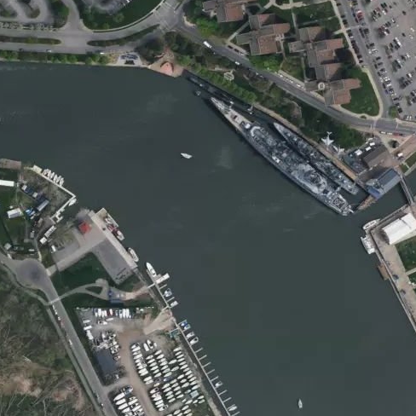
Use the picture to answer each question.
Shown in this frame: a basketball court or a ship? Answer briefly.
ship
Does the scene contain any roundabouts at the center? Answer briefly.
No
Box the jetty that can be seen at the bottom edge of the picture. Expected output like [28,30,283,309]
[142,264,237,416]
